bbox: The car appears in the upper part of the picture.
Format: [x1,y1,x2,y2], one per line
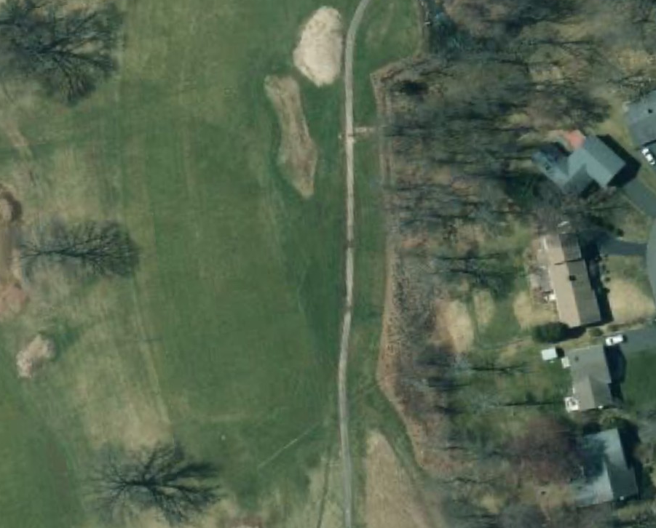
[641,148,656,165]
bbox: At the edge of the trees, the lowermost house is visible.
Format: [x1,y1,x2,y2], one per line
[580,429,646,505]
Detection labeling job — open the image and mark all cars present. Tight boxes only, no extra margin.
[606,335,624,344]
[641,148,656,165]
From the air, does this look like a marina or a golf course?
golf course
